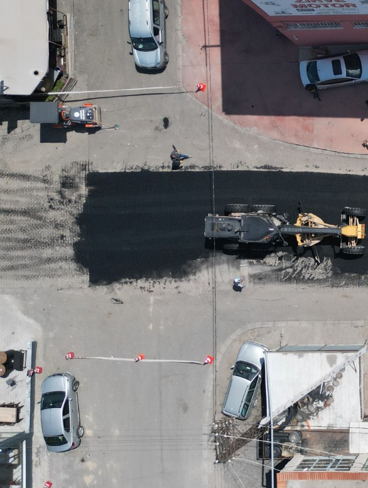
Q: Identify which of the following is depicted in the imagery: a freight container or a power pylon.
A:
power pylon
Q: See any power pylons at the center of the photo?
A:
No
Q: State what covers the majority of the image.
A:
paved ground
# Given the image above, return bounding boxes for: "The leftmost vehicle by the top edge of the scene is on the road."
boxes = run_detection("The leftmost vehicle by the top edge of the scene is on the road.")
[128,0,173,76]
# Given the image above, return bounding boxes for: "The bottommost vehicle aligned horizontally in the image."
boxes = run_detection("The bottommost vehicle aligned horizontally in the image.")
[204,203,367,263]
